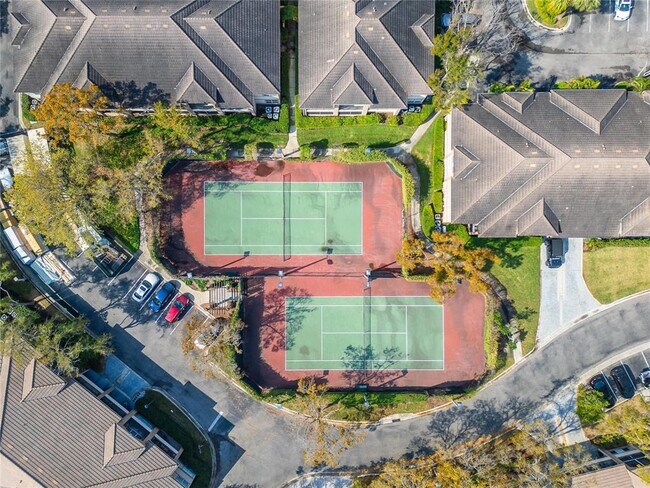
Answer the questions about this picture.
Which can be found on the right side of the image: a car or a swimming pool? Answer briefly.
car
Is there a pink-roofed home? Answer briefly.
No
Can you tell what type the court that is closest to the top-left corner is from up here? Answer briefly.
tennis court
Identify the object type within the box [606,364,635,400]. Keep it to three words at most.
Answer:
car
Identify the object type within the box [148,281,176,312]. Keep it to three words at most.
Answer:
car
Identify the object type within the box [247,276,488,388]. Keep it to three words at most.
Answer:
tennis court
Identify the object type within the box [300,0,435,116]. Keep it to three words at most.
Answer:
house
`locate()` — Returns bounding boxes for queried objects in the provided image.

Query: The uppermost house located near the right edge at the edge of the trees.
[446,89,650,237]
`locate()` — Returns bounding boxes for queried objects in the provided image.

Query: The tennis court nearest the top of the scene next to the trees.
[162,160,404,276]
